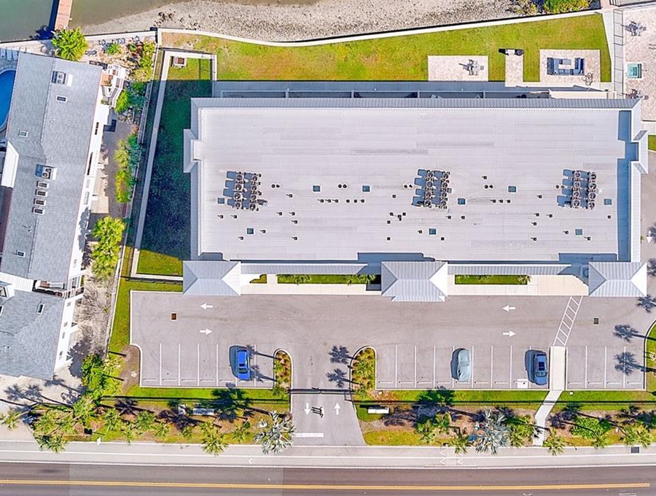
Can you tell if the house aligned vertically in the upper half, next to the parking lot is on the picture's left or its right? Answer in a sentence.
The house aligned vertically in the upper half, next to the parking lot appears in the left half of the scene.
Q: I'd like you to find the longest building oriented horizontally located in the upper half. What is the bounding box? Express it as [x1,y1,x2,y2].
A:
[183,90,649,301]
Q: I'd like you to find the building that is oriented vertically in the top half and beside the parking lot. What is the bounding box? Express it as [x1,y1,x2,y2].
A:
[0,51,128,300]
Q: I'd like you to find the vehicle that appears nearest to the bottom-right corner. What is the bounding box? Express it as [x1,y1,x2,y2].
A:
[533,349,549,384]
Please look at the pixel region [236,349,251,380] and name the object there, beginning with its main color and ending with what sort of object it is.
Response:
blue car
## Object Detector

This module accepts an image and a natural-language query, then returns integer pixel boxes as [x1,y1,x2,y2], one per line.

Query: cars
[236,349,251,380]
[533,349,549,384]
[456,348,470,382]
